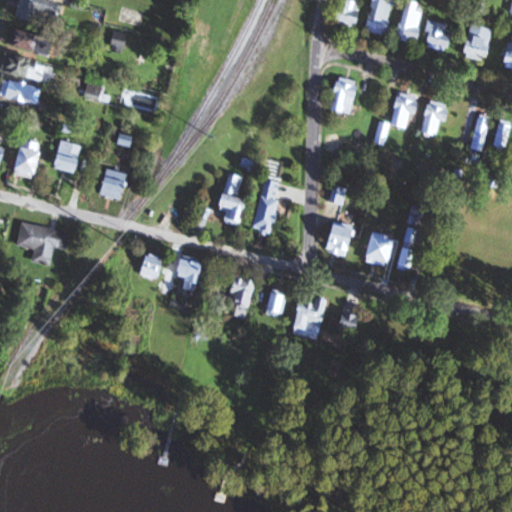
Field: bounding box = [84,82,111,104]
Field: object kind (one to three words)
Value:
house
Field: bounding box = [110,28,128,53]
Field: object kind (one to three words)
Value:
house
